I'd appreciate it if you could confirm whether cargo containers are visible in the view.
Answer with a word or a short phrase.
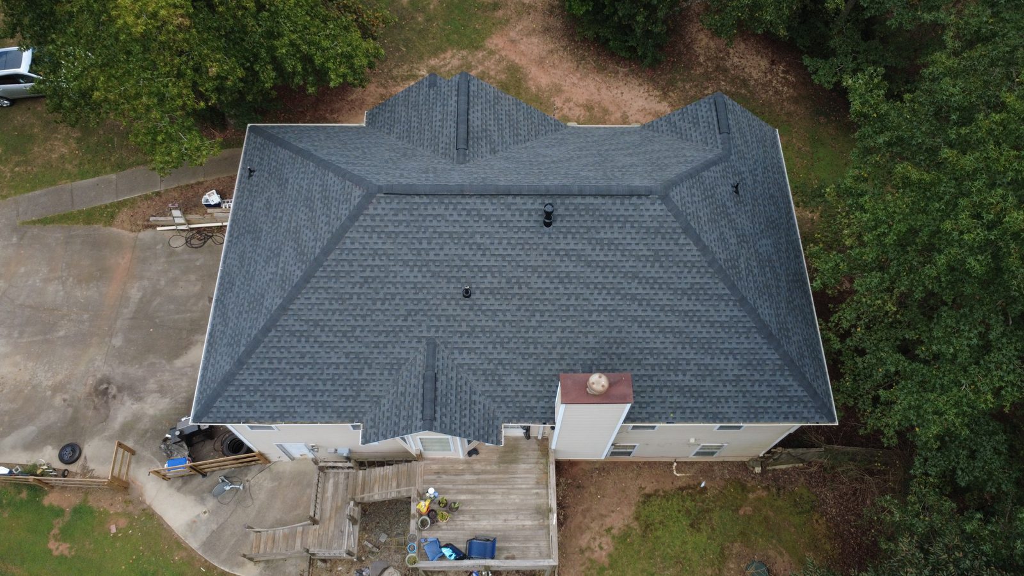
No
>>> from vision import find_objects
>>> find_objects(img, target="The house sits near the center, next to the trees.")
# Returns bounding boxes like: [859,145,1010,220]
[189,71,839,467]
